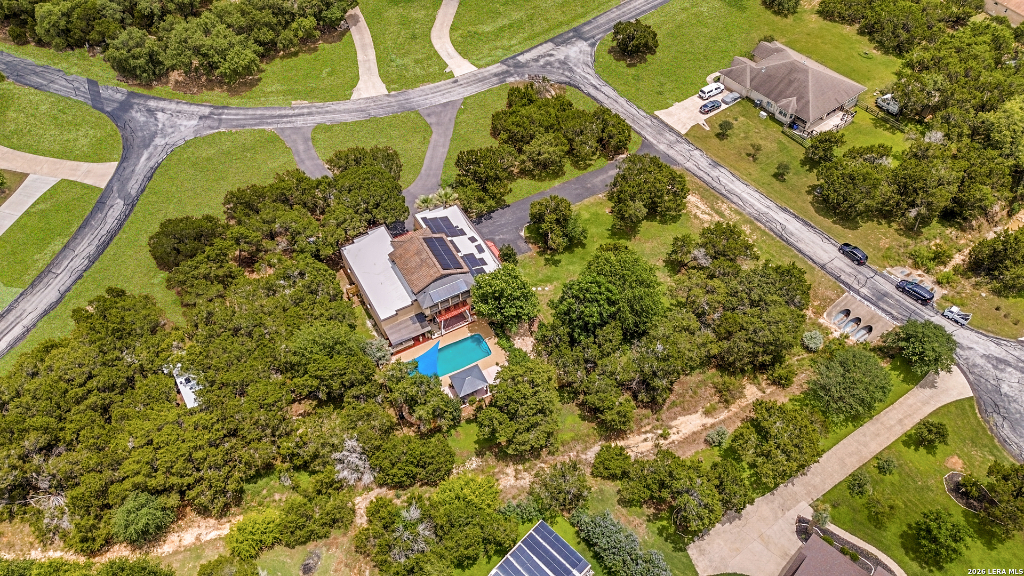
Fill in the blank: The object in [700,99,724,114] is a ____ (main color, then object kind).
gray car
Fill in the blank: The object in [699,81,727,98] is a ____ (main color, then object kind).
white vehicle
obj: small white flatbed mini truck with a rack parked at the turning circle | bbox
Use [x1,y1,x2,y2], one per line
[944,305,973,326]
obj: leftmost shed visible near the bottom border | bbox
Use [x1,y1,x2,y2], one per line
[490,520,593,576]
